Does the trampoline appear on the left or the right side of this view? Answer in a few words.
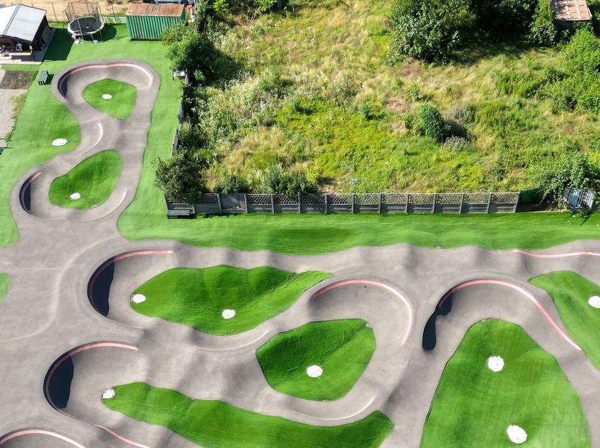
left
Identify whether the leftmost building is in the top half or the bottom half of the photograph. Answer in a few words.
top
